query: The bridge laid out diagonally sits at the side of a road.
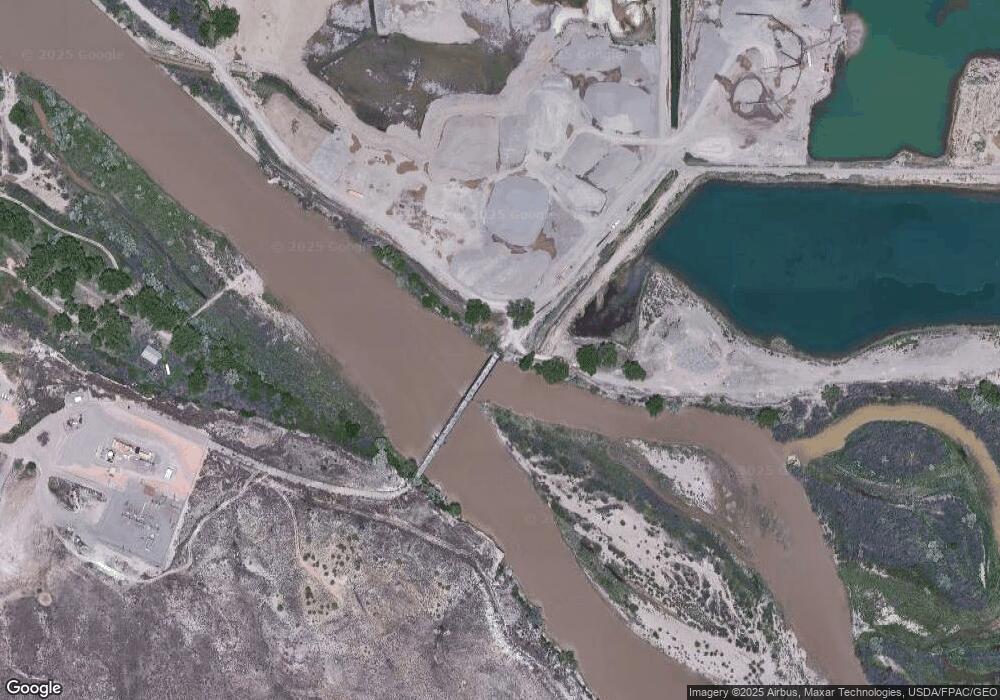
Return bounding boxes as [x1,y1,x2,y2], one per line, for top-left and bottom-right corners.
[412,350,503,484]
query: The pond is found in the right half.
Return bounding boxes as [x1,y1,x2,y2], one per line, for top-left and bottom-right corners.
[572,260,648,337]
